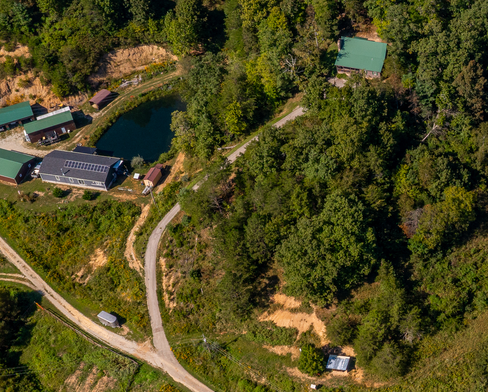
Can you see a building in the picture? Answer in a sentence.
Yes, I can see a building in this picture.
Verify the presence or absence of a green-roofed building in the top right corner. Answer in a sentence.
Yes, a green-roofed building can be seen in the top right corner.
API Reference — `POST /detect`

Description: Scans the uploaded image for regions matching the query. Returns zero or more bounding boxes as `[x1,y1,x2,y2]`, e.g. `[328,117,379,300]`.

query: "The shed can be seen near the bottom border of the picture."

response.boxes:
[326,352,348,374]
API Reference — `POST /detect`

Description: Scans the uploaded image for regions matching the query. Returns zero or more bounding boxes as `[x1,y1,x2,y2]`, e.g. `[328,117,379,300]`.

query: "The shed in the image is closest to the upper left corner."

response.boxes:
[0,102,34,126]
